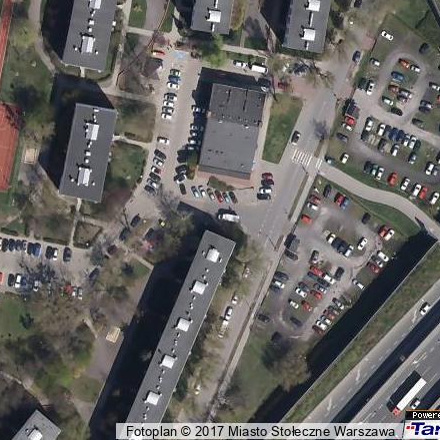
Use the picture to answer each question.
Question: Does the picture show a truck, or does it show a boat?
truck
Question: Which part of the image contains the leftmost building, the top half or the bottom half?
bottom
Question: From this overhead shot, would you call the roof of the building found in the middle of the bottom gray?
Yes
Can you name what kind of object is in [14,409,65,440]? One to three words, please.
building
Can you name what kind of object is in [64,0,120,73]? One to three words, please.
building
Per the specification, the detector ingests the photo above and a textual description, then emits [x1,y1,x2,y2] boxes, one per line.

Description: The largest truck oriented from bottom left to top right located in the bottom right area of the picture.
[390,380,427,414]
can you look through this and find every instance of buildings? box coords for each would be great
[64,0,120,73]
[60,103,119,203]
[14,409,65,440]
[188,0,236,35]
[118,230,237,440]
[280,0,333,54]
[199,83,267,179]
